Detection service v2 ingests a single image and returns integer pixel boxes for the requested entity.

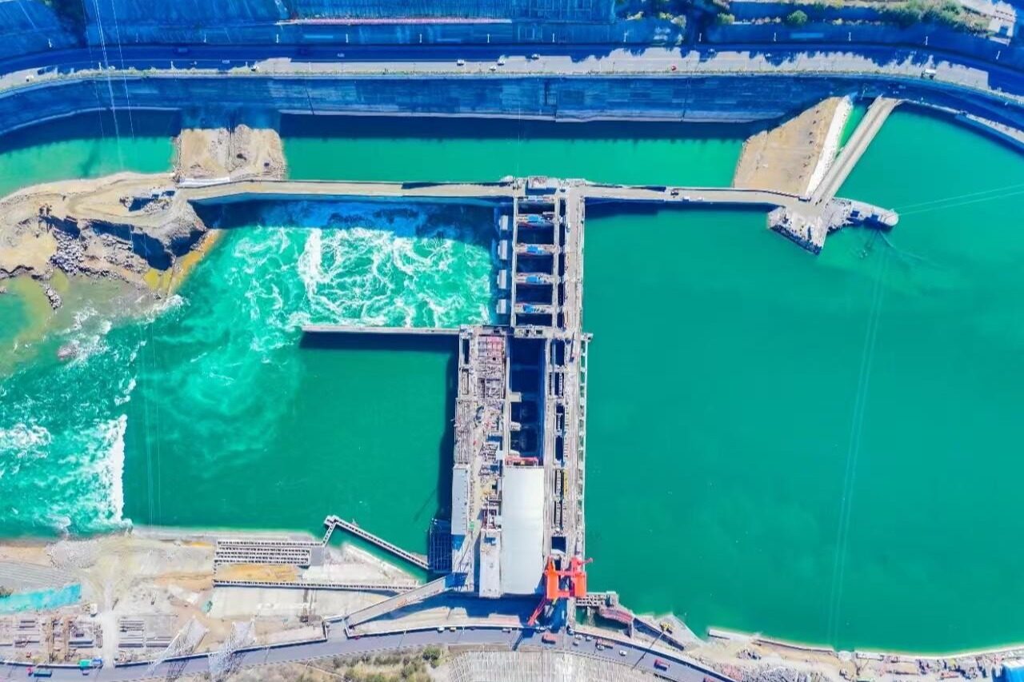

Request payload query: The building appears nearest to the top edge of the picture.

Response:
[981,2,1016,44]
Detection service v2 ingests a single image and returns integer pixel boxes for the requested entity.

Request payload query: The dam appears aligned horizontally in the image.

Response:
[178,175,803,335]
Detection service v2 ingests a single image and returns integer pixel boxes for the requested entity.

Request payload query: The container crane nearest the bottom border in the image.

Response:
[528,551,593,625]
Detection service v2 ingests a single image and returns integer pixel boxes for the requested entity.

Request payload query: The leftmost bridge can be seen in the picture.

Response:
[345,573,448,628]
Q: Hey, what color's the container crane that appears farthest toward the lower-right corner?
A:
red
